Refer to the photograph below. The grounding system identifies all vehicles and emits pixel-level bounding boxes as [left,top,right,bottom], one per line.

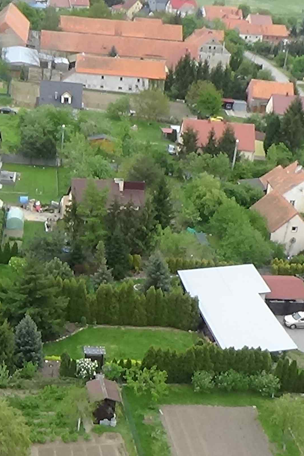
[225,102,233,109]
[0,107,18,116]
[209,112,225,121]
[165,140,175,152]
[284,311,304,327]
